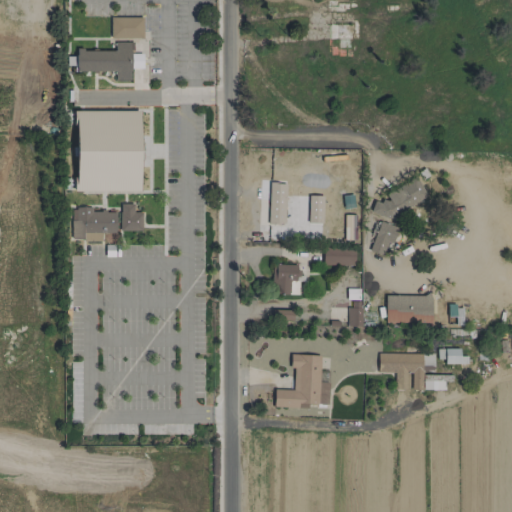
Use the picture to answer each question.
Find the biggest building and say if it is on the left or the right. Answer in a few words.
left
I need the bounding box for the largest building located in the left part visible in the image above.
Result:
[77,111,144,194]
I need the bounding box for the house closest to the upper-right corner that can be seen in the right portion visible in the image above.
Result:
[376,180,426,213]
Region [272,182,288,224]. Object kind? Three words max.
building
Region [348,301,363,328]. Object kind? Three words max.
house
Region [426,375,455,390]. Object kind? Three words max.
shed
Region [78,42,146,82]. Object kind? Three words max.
building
